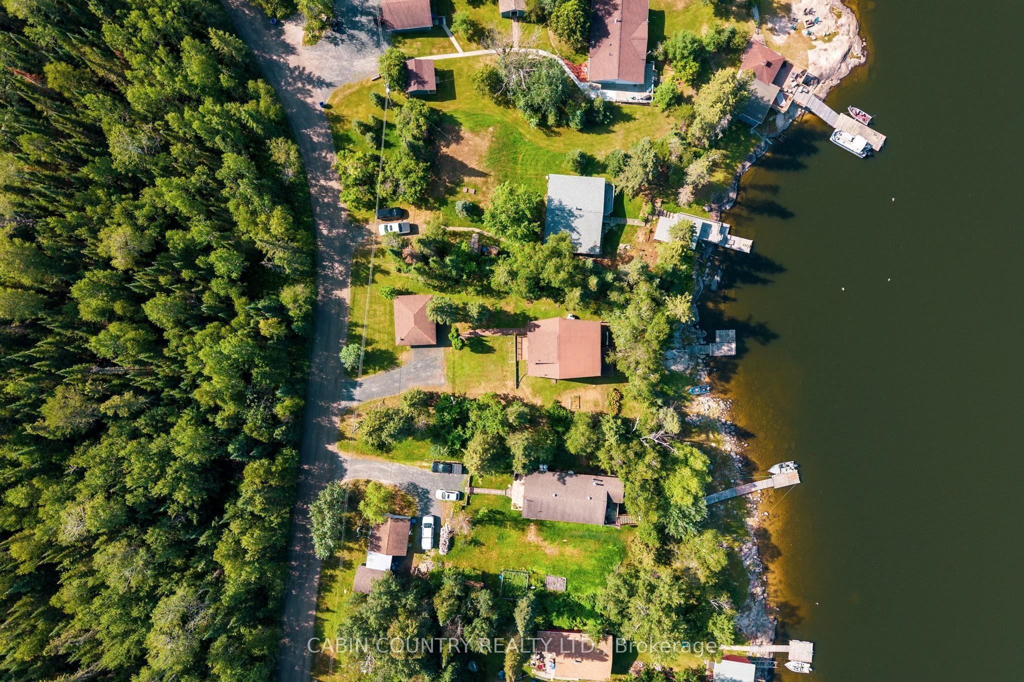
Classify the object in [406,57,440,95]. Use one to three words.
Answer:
shed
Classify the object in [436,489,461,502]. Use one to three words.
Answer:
vehicle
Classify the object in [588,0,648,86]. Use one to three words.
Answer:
house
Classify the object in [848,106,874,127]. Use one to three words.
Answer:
boat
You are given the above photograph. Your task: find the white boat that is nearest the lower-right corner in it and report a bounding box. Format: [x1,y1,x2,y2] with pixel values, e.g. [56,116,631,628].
[783,661,816,674]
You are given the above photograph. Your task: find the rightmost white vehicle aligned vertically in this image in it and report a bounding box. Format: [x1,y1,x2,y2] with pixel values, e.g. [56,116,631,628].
[421,515,436,551]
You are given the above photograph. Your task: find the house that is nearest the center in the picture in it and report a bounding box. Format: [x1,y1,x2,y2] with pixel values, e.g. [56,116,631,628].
[527,321,602,376]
